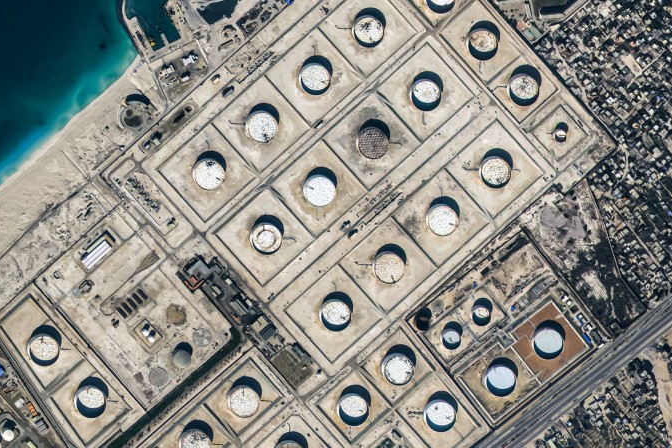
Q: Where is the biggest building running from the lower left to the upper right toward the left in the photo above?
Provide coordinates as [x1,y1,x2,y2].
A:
[81,240,111,267]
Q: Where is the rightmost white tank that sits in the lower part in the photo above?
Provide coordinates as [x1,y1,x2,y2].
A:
[518,327,565,359]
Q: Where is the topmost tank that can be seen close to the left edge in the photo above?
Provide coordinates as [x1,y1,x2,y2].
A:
[26,318,60,365]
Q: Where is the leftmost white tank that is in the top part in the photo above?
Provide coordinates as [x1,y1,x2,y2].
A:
[192,144,226,191]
